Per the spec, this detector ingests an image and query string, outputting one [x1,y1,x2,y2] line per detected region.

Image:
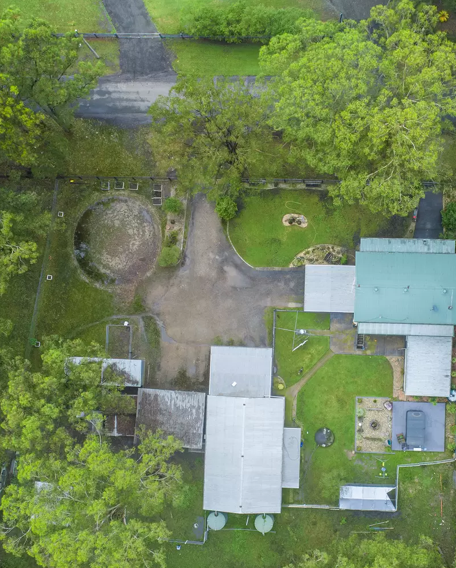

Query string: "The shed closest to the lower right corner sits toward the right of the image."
[340,484,397,512]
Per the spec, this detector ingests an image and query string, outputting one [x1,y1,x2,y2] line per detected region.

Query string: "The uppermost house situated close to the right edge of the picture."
[354,239,456,339]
